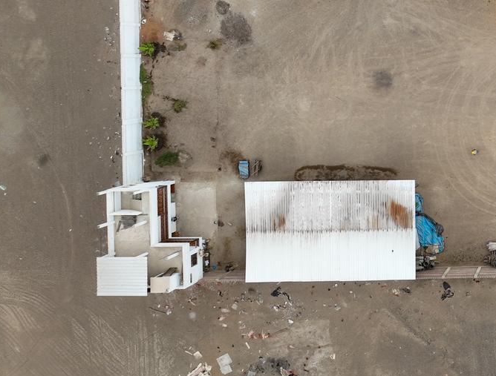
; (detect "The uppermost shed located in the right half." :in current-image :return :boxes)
[245,180,420,282]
